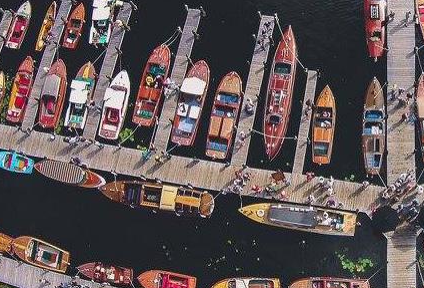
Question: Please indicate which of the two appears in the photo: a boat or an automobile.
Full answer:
I can see a boat in this picture.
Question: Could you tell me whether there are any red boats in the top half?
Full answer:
Yes, a red boat is visible in the top half.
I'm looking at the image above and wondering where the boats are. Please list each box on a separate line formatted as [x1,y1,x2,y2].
[416,0,424,50]
[99,52,130,142]
[62,2,86,50]
[362,0,387,65]
[6,0,31,50]
[291,268,386,288]
[136,269,198,288]
[118,30,178,147]
[168,57,213,155]
[33,159,107,190]
[238,199,360,236]
[89,0,115,46]
[412,51,424,184]
[363,77,387,186]
[0,150,36,175]
[306,84,337,173]
[0,231,22,262]
[98,175,222,215]
[65,61,111,130]
[75,260,133,288]
[5,56,34,123]
[211,276,280,288]
[246,16,306,161]
[0,70,7,114]
[37,1,57,51]
[11,237,72,272]
[205,70,243,162]
[35,58,68,130]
